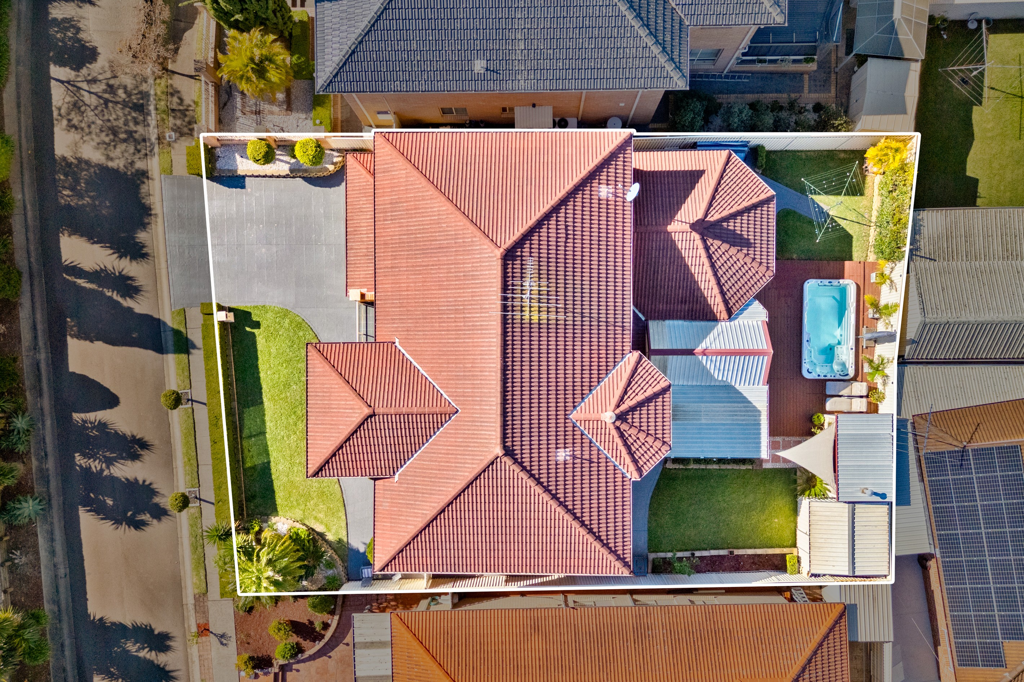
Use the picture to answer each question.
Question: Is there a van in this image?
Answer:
No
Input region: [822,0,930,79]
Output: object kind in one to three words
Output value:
gazebo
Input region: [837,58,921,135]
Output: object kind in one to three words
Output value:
shed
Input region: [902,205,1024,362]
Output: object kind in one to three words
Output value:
building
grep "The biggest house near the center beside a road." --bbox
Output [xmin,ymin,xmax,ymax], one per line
[303,128,778,578]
